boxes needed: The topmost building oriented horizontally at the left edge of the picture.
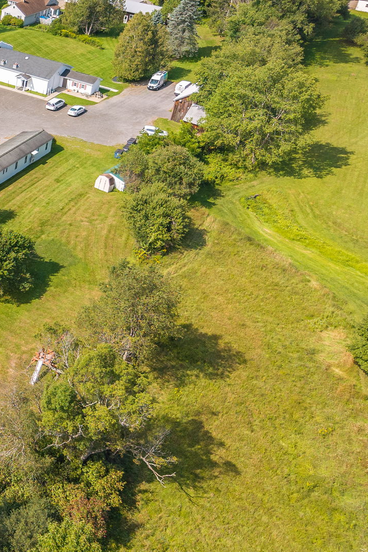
[1,0,60,26]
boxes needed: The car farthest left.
[47,95,65,108]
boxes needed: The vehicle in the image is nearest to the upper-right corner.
[178,74,194,90]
